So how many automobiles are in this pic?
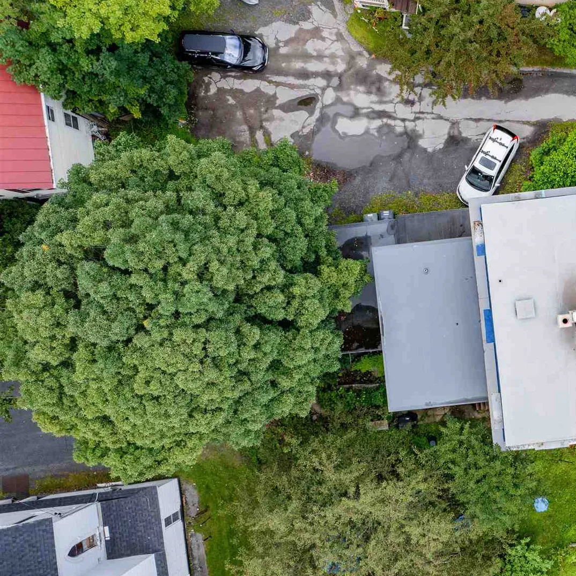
2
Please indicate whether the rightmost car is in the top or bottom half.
top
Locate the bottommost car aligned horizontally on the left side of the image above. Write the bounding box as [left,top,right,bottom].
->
[173,26,267,74]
